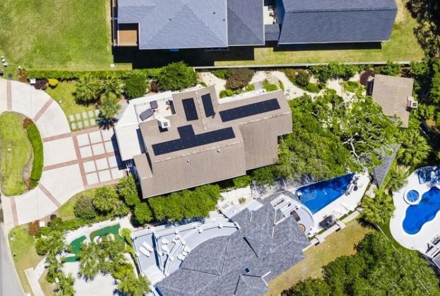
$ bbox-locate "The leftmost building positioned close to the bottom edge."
[125,189,319,296]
